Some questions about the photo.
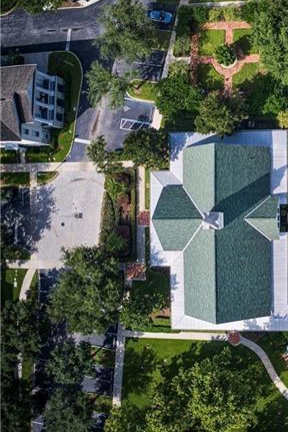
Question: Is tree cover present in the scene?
Yes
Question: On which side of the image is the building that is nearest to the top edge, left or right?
left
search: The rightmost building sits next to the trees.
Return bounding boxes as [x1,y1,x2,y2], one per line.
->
[150,130,288,330]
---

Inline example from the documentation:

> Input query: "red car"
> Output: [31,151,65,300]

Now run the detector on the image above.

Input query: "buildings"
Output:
[0,63,67,152]
[150,130,288,330]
